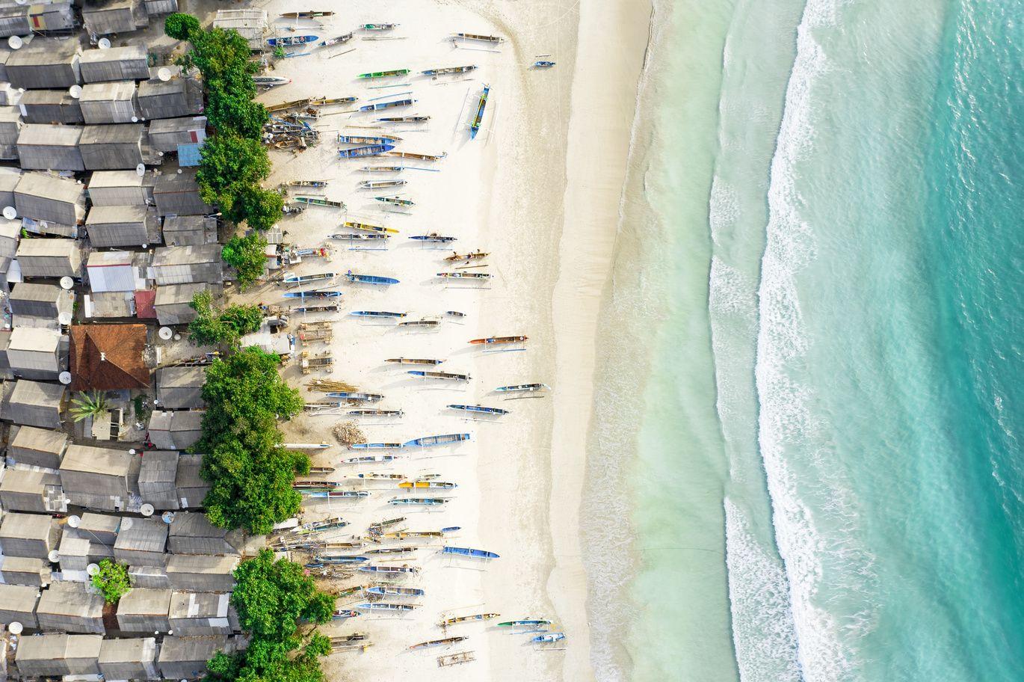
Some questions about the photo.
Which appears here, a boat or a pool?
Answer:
boat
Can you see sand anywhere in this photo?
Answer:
Yes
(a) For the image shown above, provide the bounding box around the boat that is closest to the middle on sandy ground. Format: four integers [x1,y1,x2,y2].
[470,336,534,352]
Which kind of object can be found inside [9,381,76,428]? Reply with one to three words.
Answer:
house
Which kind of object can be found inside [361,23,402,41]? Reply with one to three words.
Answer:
boat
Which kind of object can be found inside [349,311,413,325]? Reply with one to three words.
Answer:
boat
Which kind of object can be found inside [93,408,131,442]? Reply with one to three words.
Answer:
building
